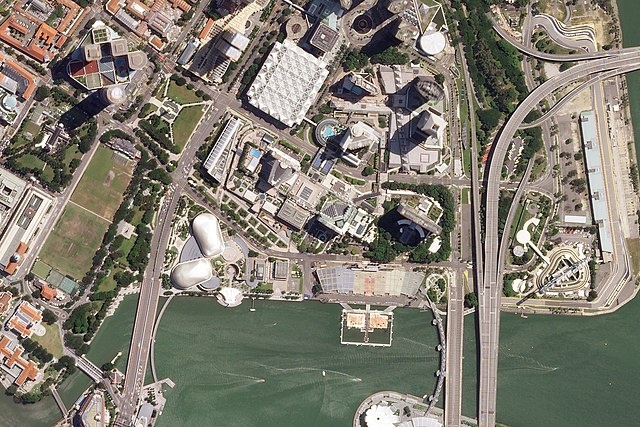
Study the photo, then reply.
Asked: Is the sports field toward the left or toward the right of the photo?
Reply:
left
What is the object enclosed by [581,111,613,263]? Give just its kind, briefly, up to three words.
building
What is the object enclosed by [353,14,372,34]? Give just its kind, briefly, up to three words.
fountain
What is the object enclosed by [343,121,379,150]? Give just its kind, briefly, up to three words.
building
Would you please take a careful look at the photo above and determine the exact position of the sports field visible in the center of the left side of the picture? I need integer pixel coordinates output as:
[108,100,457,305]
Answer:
[38,143,135,276]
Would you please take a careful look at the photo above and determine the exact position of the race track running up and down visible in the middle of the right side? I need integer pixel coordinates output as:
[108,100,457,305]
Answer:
[500,69,628,310]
